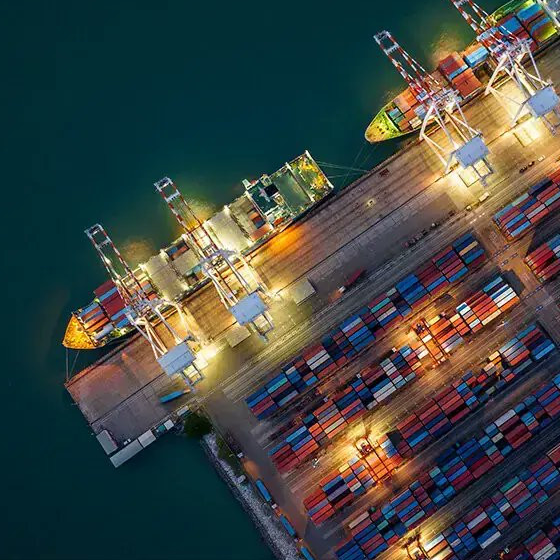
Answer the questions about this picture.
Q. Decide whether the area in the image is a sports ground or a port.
port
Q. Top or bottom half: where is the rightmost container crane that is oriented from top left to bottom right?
top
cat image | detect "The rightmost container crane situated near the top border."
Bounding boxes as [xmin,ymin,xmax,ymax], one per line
[450,0,560,132]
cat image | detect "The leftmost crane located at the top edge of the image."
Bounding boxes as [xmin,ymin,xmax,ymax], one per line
[372,26,501,182]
